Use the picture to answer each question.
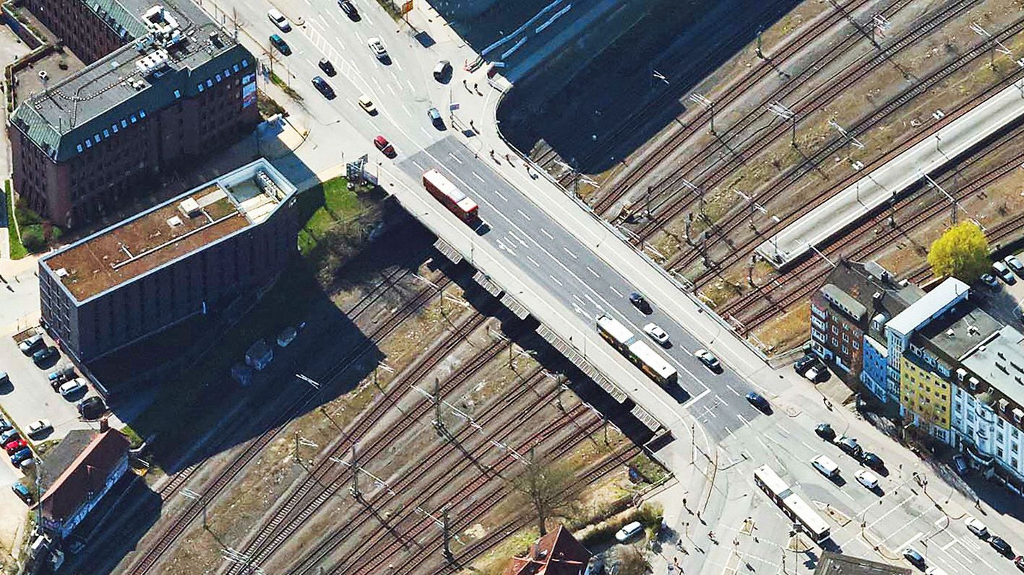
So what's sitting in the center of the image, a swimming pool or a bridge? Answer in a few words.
bridge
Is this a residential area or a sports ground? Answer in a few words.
residential area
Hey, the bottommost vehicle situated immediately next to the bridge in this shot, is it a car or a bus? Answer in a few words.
bus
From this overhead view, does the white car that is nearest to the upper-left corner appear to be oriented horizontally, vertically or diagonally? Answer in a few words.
diagonally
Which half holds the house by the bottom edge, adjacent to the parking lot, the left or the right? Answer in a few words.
left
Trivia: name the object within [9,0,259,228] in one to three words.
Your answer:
building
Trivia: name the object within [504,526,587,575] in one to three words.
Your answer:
house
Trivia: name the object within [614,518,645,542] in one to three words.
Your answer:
vehicle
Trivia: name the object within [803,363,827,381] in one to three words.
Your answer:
car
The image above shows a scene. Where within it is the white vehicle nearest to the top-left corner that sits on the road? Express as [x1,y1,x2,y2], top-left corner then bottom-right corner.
[267,10,292,31]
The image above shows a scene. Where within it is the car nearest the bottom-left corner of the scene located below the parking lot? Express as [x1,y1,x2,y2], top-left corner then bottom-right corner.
[10,484,33,504]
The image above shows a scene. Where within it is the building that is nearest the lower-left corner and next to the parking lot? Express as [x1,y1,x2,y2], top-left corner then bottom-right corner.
[28,415,135,553]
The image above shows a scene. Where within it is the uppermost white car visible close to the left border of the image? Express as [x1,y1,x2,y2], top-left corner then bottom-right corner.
[17,333,46,353]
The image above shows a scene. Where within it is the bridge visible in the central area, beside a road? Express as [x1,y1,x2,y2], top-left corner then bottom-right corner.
[390,83,770,442]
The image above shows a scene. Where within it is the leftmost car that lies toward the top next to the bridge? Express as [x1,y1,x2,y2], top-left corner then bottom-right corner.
[373,137,395,156]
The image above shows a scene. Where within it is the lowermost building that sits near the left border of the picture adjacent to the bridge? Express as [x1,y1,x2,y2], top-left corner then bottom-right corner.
[39,157,302,377]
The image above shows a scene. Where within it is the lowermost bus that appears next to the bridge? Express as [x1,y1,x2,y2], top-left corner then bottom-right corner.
[753,465,832,546]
